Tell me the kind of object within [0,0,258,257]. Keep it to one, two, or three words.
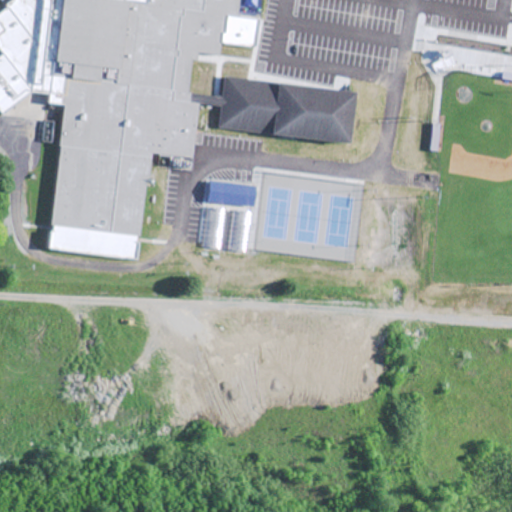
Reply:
building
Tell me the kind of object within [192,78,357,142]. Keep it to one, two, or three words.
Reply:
building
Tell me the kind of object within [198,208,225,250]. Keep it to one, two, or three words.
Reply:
greenhouse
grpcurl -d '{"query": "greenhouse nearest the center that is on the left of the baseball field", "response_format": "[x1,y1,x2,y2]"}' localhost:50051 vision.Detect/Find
[228,210,252,252]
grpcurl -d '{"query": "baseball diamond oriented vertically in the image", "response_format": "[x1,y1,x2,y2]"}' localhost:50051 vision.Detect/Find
[431,71,512,286]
